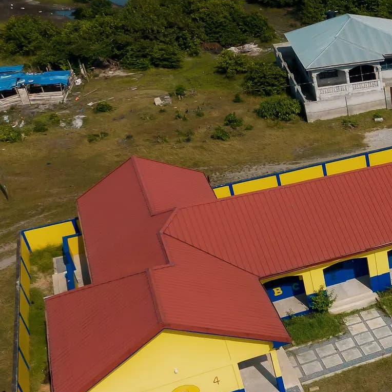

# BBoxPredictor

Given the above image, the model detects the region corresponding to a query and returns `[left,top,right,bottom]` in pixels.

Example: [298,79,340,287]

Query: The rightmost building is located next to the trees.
[281,16,392,101]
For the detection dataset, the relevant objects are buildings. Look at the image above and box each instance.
[281,16,392,101]
[0,64,74,110]
[46,159,392,392]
